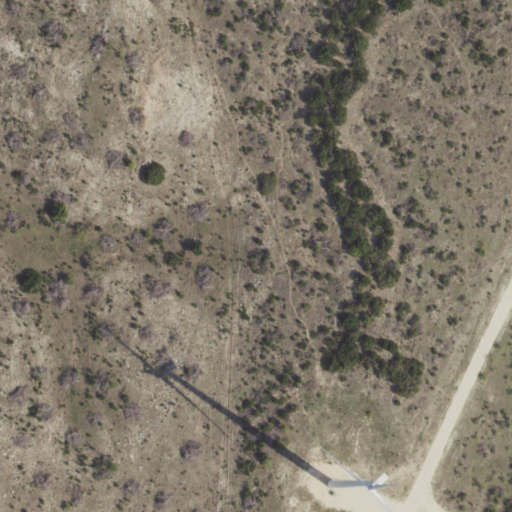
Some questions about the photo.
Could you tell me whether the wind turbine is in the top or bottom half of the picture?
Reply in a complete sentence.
The wind turbine sits in the bottom half of the picture.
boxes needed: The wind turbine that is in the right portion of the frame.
[308,438,404,512]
